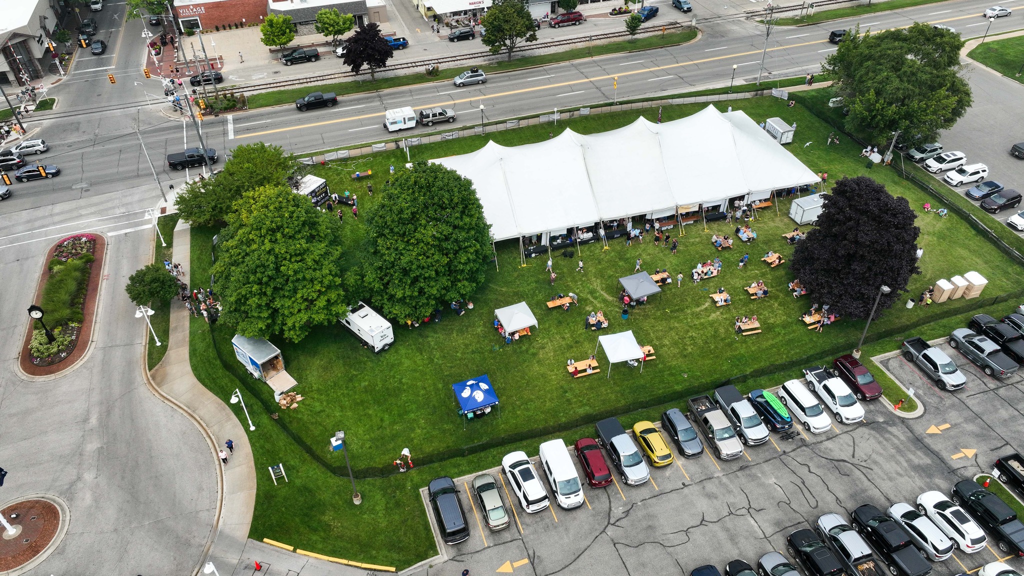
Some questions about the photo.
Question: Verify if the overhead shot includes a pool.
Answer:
No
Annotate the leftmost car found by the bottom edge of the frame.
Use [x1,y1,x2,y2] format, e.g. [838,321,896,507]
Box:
[426,470,472,548]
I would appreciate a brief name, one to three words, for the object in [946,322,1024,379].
truck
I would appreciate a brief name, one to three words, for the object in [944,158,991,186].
car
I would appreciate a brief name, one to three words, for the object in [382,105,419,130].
camper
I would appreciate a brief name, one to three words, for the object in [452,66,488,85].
vehicle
